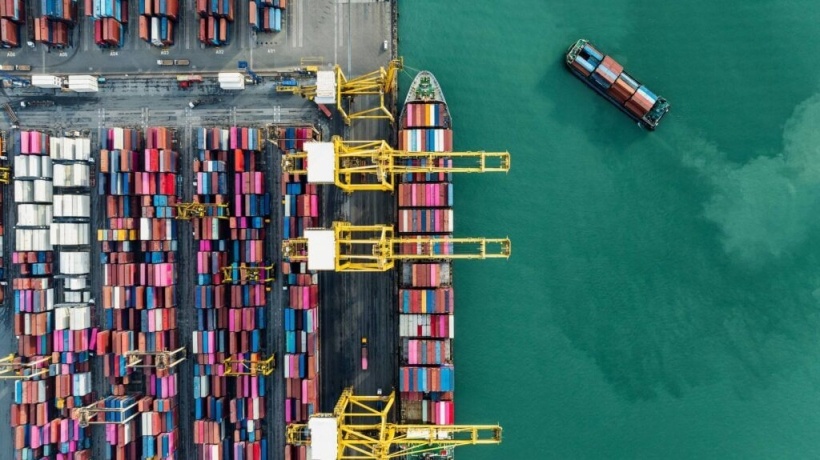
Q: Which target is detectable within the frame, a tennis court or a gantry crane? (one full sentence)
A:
The one in the frame is a gantry crane.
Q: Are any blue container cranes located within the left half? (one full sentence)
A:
No, within the left half there is no blue container crane.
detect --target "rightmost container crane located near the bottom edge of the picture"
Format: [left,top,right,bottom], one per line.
[287,385,502,460]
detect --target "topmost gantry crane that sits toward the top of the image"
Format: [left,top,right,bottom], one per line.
[278,46,401,133]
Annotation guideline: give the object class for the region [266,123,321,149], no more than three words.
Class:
container crane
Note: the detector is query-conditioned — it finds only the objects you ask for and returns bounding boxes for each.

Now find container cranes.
[278,46,401,133]
[266,123,321,149]
[179,203,236,220]
[0,355,44,380]
[223,262,279,282]
[226,351,279,376]
[283,221,511,272]
[283,136,511,197]
[0,167,22,186]
[126,344,188,368]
